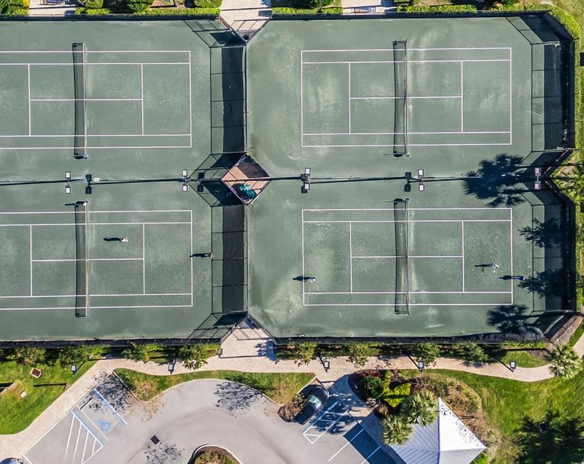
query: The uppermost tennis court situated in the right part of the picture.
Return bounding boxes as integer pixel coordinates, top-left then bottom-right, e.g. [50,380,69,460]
[247,16,564,178]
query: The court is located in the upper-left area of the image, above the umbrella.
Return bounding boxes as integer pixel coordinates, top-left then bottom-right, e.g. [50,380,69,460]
[0,19,247,182]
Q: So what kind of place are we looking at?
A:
sports ground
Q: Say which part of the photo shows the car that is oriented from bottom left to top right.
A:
bottom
